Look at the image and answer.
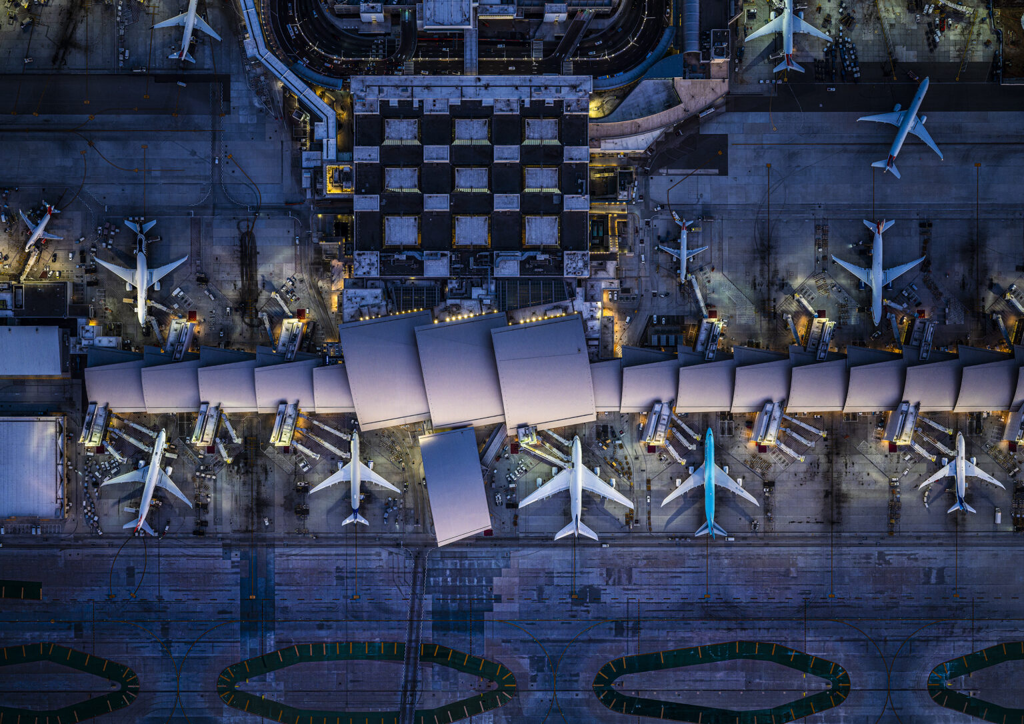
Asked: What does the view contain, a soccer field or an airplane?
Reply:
airplane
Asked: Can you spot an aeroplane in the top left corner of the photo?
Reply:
Yes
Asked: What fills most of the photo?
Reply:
paved ground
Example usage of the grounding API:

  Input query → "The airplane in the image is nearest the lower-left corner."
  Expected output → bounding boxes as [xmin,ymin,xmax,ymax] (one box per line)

[102,428,192,535]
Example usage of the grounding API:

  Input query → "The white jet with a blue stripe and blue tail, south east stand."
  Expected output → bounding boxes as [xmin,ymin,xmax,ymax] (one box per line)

[916,431,1007,514]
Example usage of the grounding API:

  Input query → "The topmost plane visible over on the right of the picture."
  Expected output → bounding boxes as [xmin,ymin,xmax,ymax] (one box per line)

[745,0,833,71]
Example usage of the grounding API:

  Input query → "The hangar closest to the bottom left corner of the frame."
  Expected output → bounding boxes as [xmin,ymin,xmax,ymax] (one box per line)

[0,416,69,520]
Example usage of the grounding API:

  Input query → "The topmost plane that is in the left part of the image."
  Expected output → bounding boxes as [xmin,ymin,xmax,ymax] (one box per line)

[152,0,222,62]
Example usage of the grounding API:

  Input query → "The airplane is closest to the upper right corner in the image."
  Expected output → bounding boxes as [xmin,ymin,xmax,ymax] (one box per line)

[858,77,941,178]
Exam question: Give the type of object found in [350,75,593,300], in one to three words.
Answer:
building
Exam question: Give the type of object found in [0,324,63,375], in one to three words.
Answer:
hangar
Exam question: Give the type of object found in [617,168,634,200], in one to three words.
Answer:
building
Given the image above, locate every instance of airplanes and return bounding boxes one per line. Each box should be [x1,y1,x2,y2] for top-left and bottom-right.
[102,428,192,535]
[745,0,833,71]
[858,77,941,178]
[658,219,708,284]
[308,429,401,527]
[94,218,187,326]
[916,431,1007,514]
[661,427,759,539]
[832,217,925,327]
[152,0,222,62]
[519,436,635,542]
